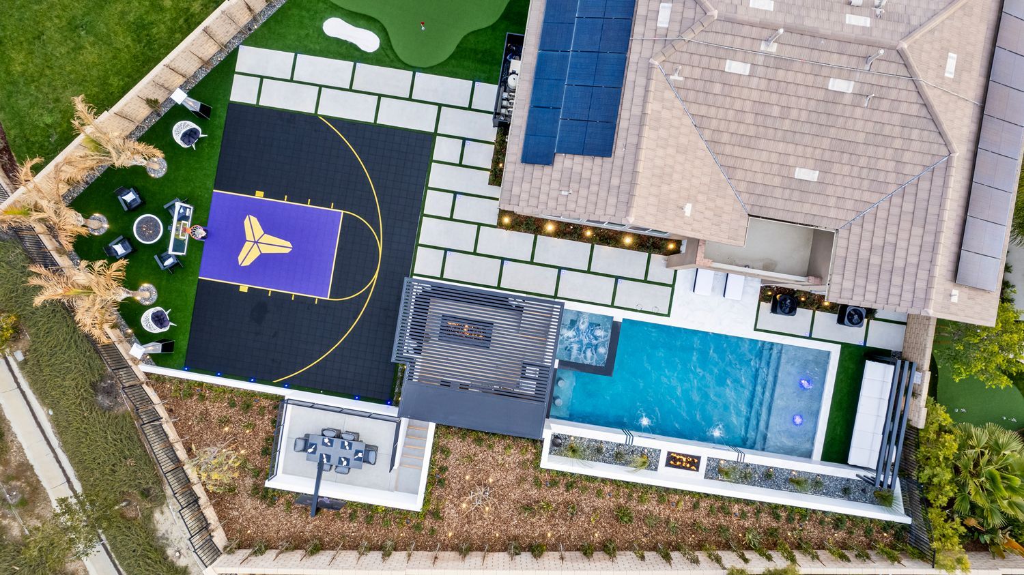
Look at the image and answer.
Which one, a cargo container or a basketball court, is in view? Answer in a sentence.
Visible in the photo is a basketball court.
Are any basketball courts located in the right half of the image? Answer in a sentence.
No, there's no basketball court to be seen in the right half of the image.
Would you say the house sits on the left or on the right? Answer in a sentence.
The house is on the right side of the image.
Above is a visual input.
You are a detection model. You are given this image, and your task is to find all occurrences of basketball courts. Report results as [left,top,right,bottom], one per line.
[187,103,433,401]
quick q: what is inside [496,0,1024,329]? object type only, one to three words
house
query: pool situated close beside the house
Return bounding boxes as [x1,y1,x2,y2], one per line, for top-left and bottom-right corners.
[413,276,842,462]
